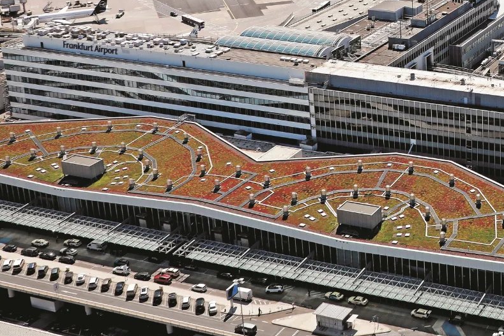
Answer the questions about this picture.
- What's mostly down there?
buildings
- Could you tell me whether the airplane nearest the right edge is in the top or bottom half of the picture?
top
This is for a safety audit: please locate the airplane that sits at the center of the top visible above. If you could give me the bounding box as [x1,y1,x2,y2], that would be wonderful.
[189,20,212,42]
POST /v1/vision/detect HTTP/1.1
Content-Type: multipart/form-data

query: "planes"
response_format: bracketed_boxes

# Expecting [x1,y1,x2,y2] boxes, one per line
[189,20,212,42]
[14,0,110,23]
